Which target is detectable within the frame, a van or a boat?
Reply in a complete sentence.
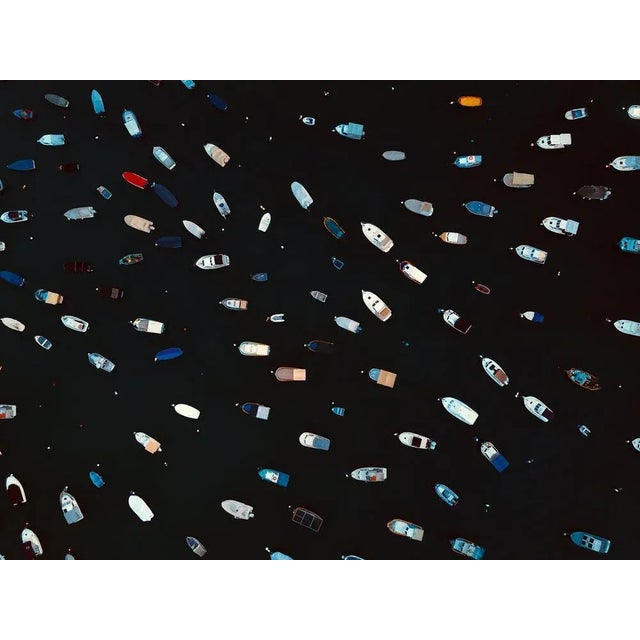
It is a boat that can be seen here.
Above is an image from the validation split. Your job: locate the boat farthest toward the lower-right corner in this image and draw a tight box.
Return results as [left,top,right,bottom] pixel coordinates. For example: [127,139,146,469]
[569,531,610,552]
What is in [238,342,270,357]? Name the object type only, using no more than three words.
boat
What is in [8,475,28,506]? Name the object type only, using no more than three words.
boat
